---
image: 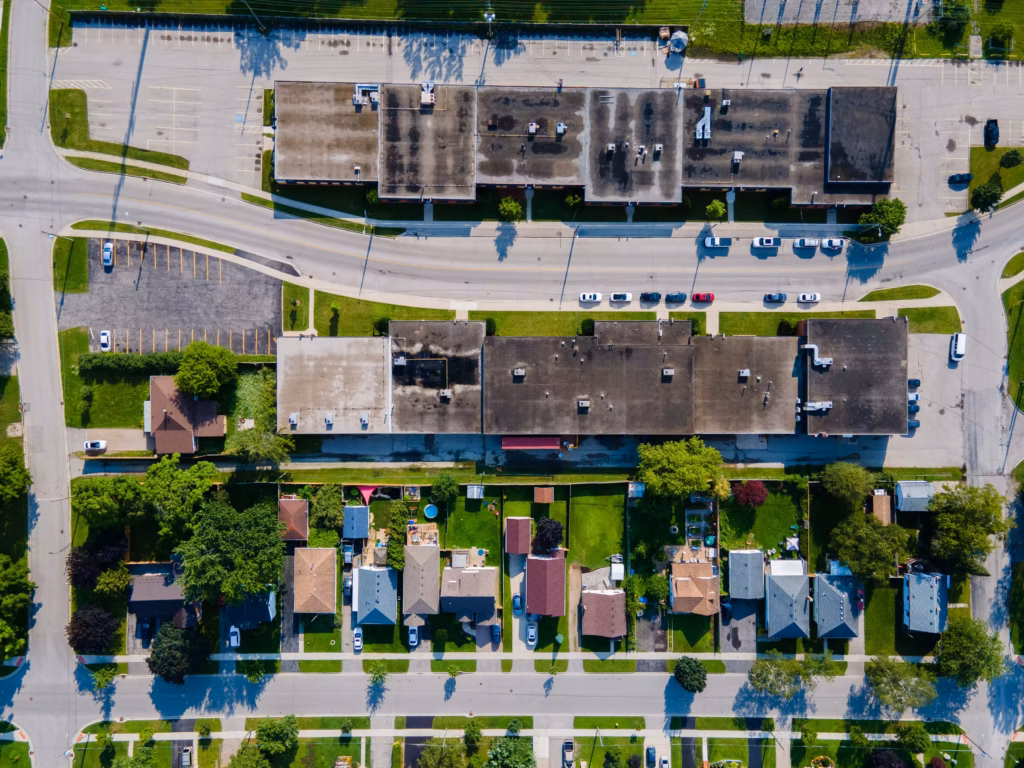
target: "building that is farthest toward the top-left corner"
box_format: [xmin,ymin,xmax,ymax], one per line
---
[274,81,379,186]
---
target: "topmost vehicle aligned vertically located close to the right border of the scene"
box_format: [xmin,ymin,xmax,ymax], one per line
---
[985,120,998,147]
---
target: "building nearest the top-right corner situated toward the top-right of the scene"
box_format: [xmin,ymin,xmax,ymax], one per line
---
[826,86,897,184]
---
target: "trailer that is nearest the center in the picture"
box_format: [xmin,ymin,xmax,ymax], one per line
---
[502,436,560,449]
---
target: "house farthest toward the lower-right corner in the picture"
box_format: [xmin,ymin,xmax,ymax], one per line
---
[904,572,947,636]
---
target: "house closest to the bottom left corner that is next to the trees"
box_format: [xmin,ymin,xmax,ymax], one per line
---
[126,562,201,629]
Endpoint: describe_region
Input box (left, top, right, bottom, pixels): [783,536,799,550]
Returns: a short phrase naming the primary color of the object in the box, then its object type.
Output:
white gazebo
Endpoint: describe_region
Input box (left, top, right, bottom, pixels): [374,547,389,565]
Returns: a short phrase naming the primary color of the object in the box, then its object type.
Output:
gray gazebo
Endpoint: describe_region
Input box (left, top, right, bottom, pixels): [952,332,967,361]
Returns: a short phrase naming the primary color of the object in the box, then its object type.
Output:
white vehicle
